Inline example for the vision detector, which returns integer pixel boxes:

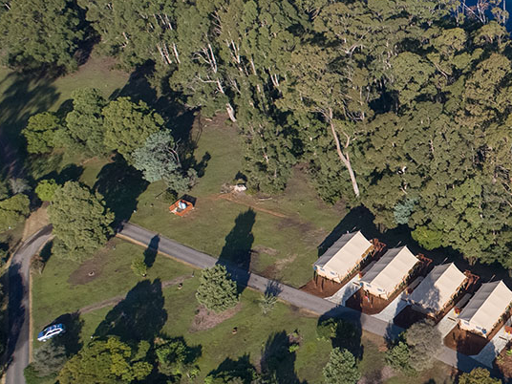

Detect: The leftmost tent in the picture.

[309,231,384,296]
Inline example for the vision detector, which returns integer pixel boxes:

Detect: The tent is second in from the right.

[403,262,477,331]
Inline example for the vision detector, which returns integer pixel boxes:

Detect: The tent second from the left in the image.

[357,246,431,313]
